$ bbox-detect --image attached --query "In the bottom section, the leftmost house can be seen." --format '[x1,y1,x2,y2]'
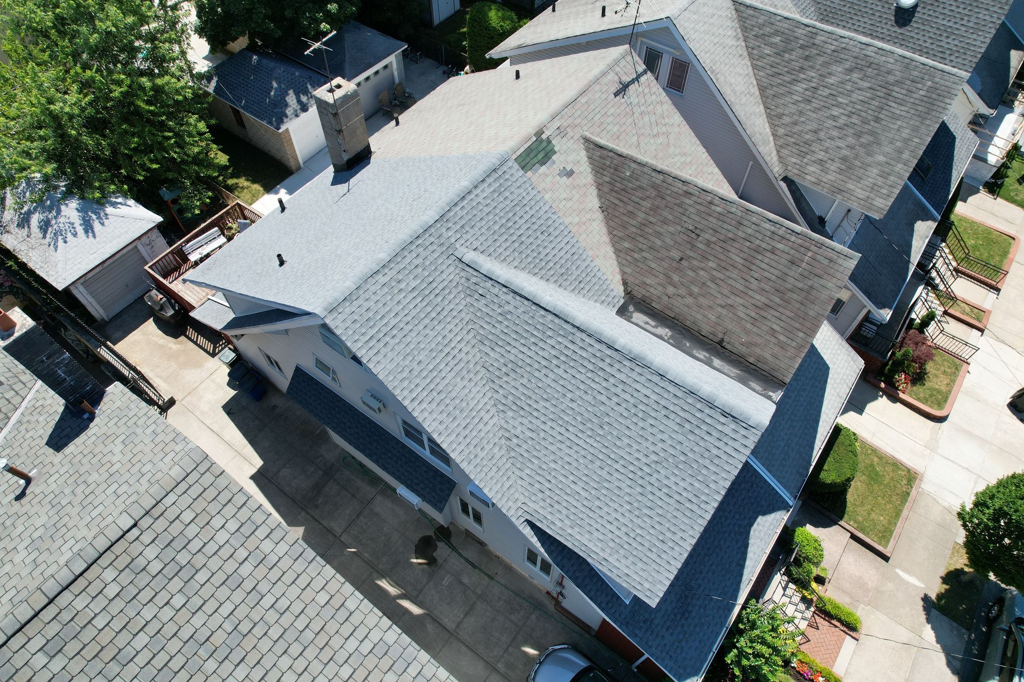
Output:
[0,286,461,682]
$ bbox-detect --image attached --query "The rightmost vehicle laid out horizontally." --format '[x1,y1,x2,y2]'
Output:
[526,634,631,682]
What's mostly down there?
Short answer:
buildings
